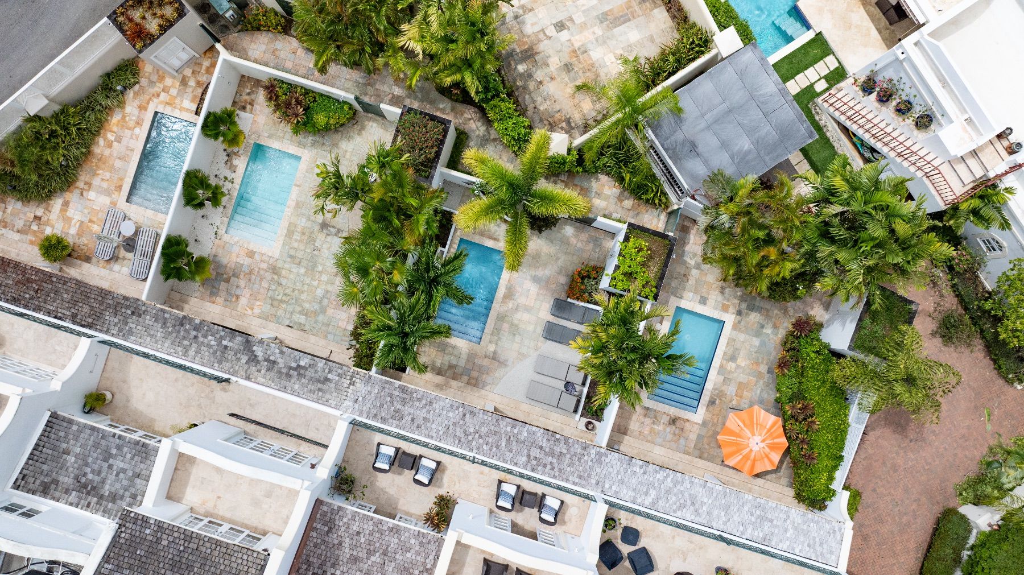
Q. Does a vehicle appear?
No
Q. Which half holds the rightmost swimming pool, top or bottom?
top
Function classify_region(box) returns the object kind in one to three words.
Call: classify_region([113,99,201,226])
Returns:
swimming pool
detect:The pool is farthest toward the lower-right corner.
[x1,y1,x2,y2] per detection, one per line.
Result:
[635,293,738,427]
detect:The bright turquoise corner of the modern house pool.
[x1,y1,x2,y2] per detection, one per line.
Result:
[725,0,825,66]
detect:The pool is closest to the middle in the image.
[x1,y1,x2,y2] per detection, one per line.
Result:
[423,226,517,357]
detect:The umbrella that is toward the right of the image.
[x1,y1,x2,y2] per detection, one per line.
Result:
[715,403,788,475]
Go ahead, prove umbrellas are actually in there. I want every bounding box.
[93,237,136,252]
[715,403,788,475]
